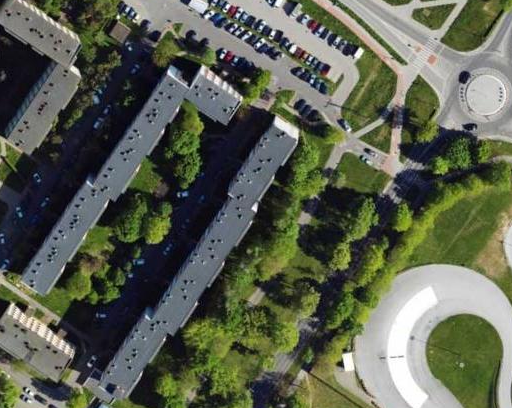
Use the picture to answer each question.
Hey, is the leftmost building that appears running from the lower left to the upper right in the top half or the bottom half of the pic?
top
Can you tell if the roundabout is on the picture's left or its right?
right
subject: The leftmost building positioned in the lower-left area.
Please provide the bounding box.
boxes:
[0,299,73,383]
